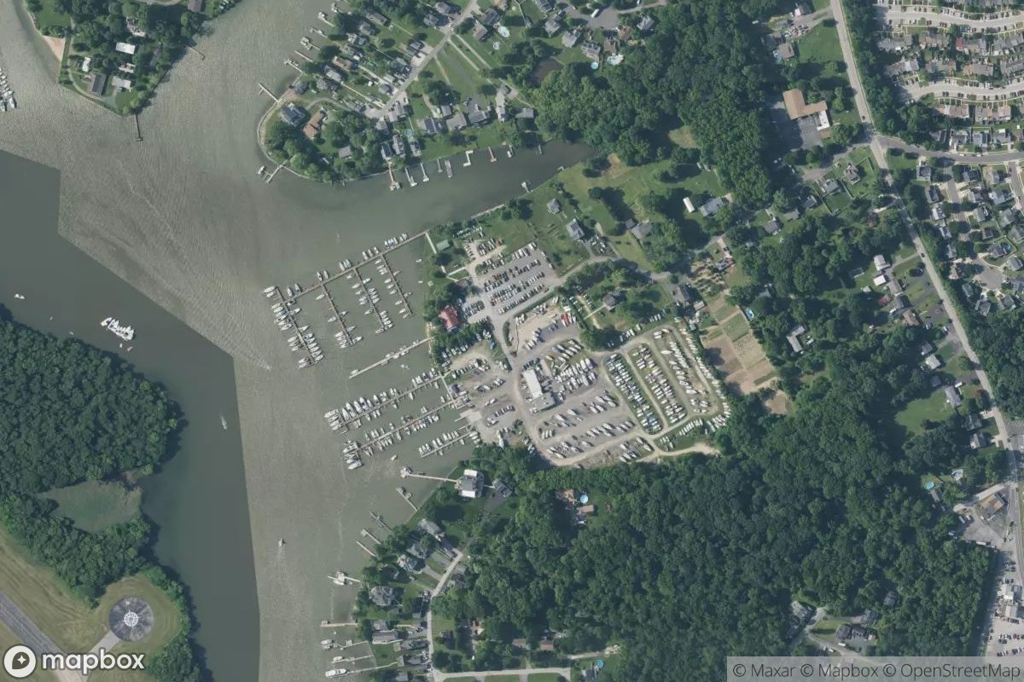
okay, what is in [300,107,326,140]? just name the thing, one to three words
house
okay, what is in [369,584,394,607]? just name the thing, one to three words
house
